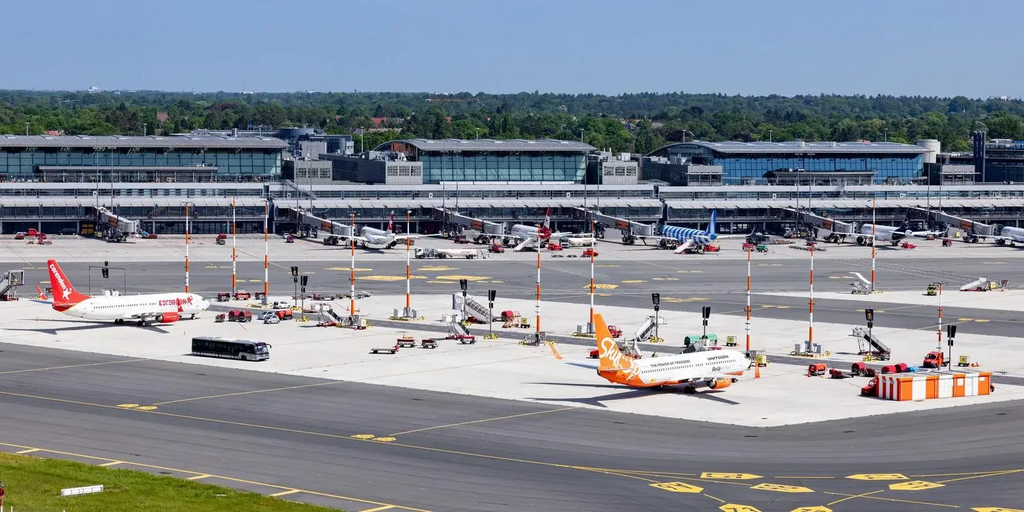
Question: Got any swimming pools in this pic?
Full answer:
No, this view has no swimming pool in it.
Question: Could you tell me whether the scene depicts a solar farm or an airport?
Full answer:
It's an airport.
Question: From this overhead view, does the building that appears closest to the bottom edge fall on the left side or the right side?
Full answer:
You can find the building that appears closest to the bottom edge on the right side of the picture.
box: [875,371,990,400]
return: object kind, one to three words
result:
building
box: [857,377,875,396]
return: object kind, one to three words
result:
vehicle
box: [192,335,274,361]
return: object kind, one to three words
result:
bus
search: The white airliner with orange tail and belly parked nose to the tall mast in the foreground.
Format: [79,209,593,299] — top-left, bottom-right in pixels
[548,313,762,395]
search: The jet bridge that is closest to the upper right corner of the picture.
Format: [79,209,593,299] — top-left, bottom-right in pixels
[906,206,1006,239]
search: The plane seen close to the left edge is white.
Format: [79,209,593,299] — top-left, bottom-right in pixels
[21,261,208,327]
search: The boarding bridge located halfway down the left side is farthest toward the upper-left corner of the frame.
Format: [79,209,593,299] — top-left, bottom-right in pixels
[91,205,144,242]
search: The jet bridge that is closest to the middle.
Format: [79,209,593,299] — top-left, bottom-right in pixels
[426,205,515,241]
